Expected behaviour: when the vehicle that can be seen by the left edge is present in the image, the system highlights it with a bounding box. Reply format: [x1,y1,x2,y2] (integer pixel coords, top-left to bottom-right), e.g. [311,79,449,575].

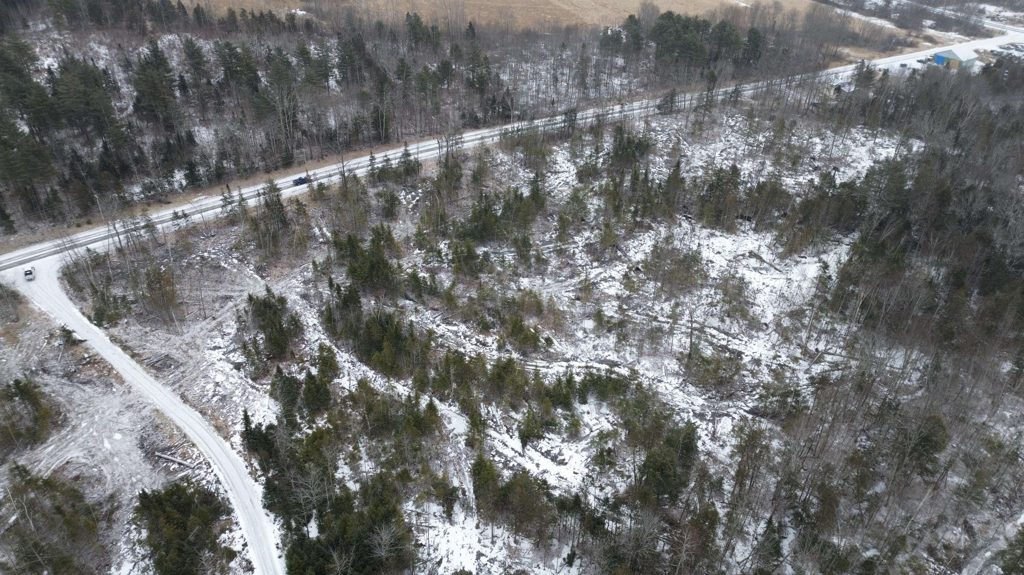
[21,265,35,279]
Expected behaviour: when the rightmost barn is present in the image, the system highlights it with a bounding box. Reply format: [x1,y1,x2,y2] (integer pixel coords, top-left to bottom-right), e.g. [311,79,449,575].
[934,46,983,69]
